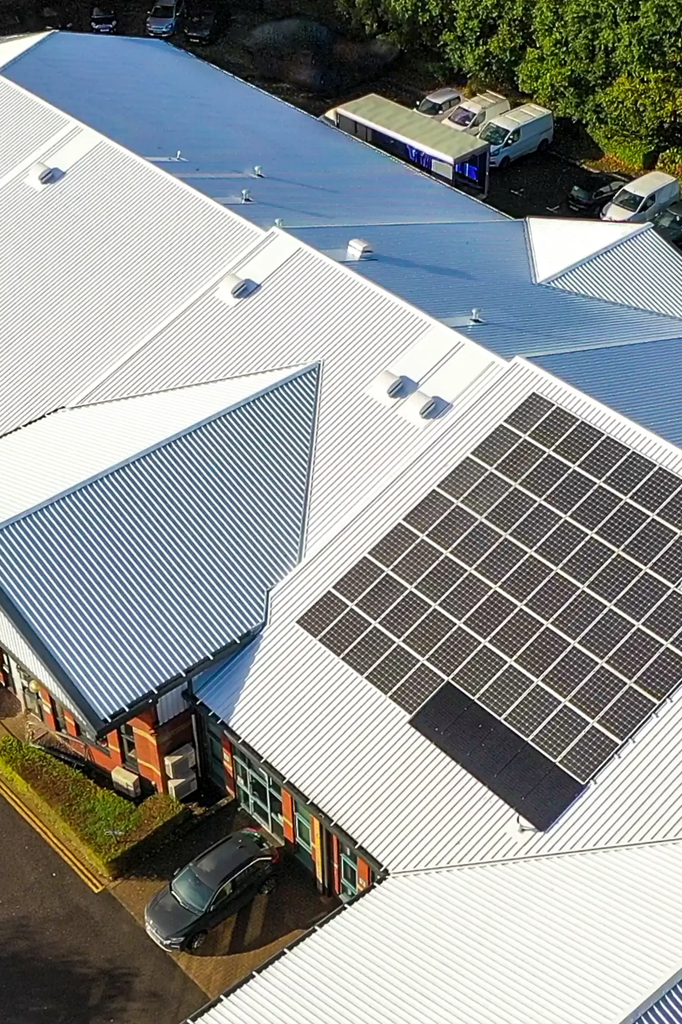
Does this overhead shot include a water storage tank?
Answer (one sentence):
No, this view has no water storage tank in it.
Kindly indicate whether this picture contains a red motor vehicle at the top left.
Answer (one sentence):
No, no red motor vehicle is visible at the top left.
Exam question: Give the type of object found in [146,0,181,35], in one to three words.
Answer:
car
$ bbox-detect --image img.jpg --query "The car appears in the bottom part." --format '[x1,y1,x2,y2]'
[144,826,283,950]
